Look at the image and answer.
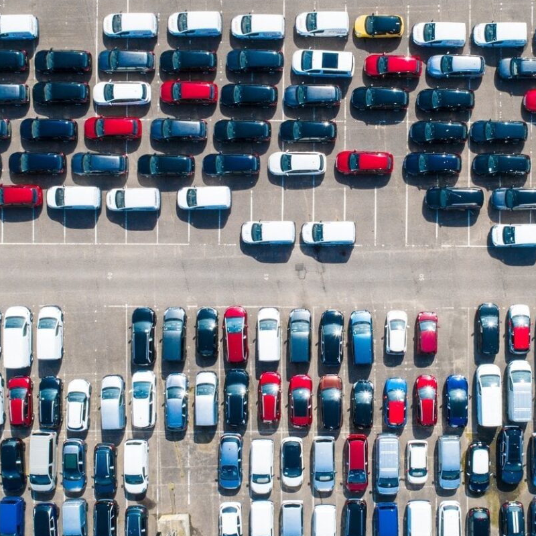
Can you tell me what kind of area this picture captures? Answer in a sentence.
It's a parking lot.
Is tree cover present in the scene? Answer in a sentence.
No, the picture contains no tree cover.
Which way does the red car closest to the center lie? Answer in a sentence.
I'd say the red car closest to the center is aligned vertically in the picture.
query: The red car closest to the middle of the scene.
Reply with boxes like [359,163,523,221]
[221,305,250,362]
